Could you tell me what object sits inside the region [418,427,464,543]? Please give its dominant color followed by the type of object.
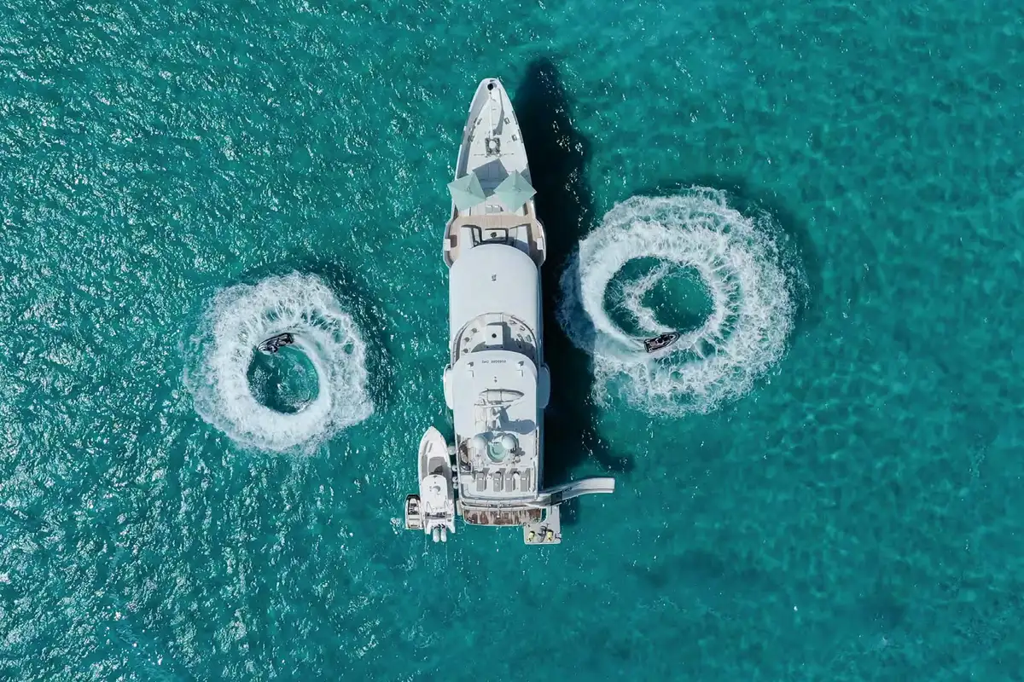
white boat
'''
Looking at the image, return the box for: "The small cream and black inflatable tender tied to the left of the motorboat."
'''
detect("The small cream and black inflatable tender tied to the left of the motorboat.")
[406,493,423,529]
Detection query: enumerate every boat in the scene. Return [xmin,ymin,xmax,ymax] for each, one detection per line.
[443,78,550,525]
[256,335,294,353]
[643,334,679,353]
[418,427,464,543]
[406,493,423,529]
